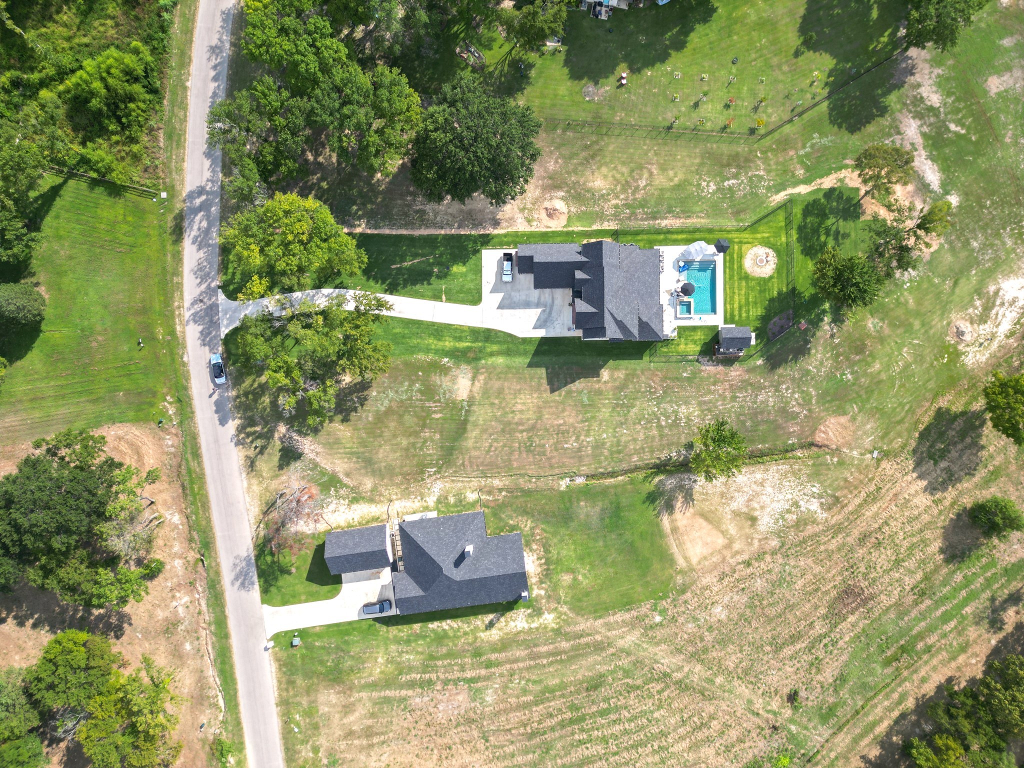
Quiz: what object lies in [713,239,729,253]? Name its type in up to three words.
umbrella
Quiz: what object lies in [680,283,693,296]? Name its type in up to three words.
umbrella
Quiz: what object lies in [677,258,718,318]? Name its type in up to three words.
swimming pool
